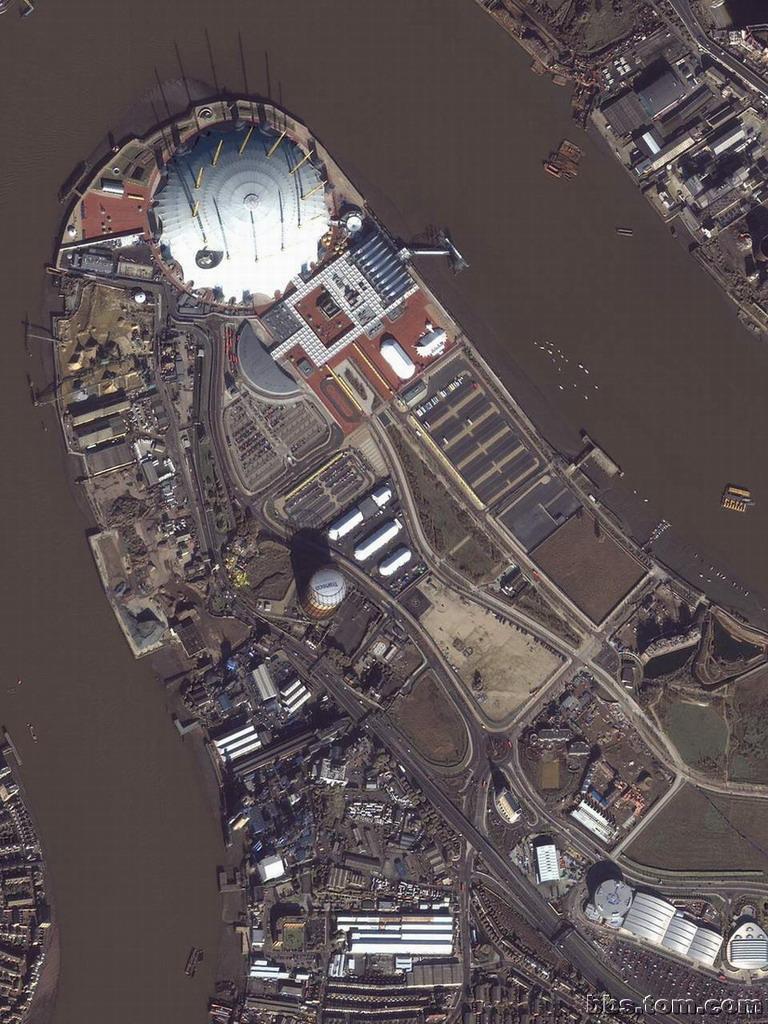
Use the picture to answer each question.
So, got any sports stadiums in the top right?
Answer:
No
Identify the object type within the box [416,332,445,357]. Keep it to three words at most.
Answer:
tent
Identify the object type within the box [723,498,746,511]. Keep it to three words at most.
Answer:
ship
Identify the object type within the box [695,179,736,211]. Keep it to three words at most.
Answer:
building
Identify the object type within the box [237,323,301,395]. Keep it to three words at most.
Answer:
building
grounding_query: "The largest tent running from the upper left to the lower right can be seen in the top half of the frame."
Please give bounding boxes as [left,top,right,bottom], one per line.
[380,344,412,381]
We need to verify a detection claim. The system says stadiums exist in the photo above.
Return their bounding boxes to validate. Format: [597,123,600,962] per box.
[148,110,336,312]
